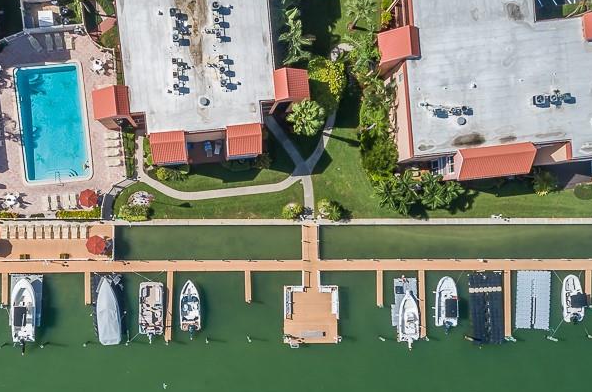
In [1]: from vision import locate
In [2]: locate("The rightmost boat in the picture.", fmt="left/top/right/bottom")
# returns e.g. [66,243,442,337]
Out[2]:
[560,274,589,326]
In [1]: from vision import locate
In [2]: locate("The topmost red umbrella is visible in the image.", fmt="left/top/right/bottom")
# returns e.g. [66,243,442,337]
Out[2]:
[79,189,99,209]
